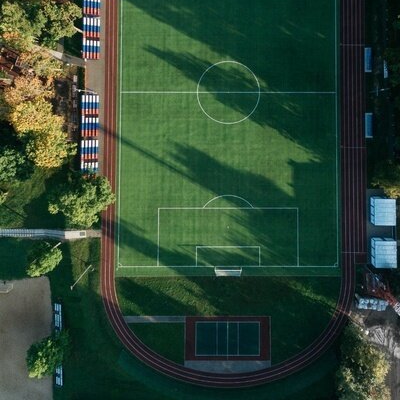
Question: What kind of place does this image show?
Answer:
sports ground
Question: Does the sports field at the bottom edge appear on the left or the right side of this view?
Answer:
left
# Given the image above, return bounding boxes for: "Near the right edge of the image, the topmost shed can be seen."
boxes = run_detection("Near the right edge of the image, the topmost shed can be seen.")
[370,197,397,227]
